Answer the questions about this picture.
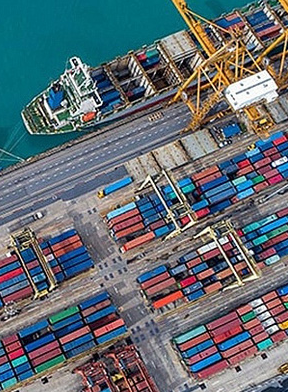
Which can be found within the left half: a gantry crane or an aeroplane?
gantry crane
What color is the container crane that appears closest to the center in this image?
white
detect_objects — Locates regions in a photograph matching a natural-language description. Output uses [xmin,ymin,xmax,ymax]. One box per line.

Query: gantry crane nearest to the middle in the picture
[133,167,196,242]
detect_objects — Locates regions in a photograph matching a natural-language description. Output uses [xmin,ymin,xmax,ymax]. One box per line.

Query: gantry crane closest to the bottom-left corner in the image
[65,357,117,392]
